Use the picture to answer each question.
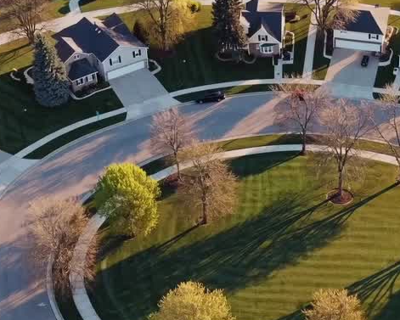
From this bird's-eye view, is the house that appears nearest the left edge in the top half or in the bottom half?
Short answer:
top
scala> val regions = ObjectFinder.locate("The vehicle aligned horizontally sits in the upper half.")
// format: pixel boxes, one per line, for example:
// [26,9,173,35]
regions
[195,87,226,103]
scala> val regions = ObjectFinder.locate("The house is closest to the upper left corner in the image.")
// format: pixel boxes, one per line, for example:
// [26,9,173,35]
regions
[51,16,150,92]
